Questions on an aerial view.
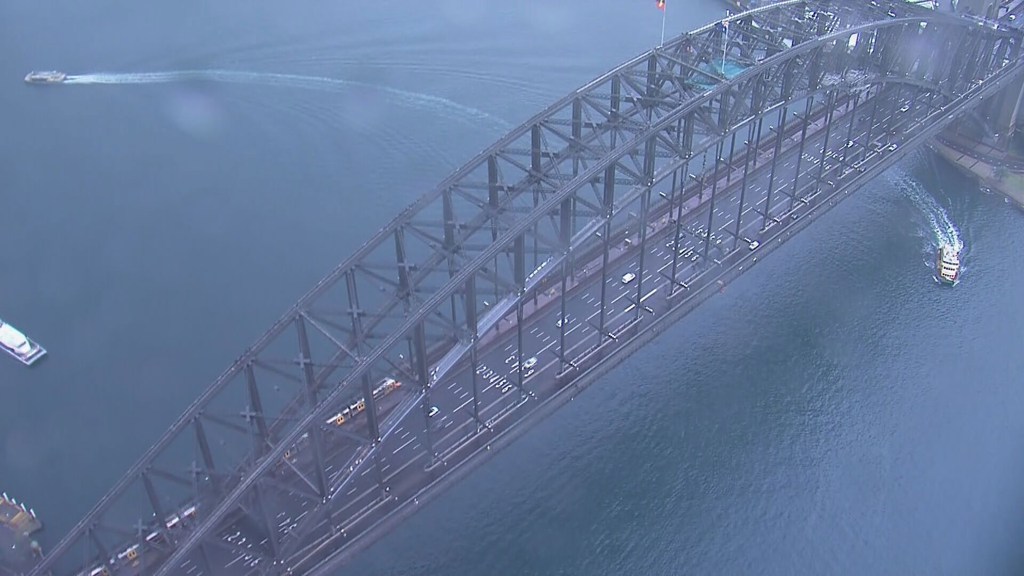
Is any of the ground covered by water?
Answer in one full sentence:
Yes, there's water in this view.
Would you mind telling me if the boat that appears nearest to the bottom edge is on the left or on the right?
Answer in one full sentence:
The boat that appears nearest to the bottom edge is on the left side of the image.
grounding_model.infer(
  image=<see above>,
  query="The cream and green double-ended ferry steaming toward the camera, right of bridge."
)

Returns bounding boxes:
[939,242,964,286]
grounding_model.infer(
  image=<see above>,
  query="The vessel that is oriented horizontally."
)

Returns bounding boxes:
[20,68,65,83]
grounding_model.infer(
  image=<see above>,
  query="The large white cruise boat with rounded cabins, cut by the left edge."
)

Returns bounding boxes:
[0,313,48,363]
